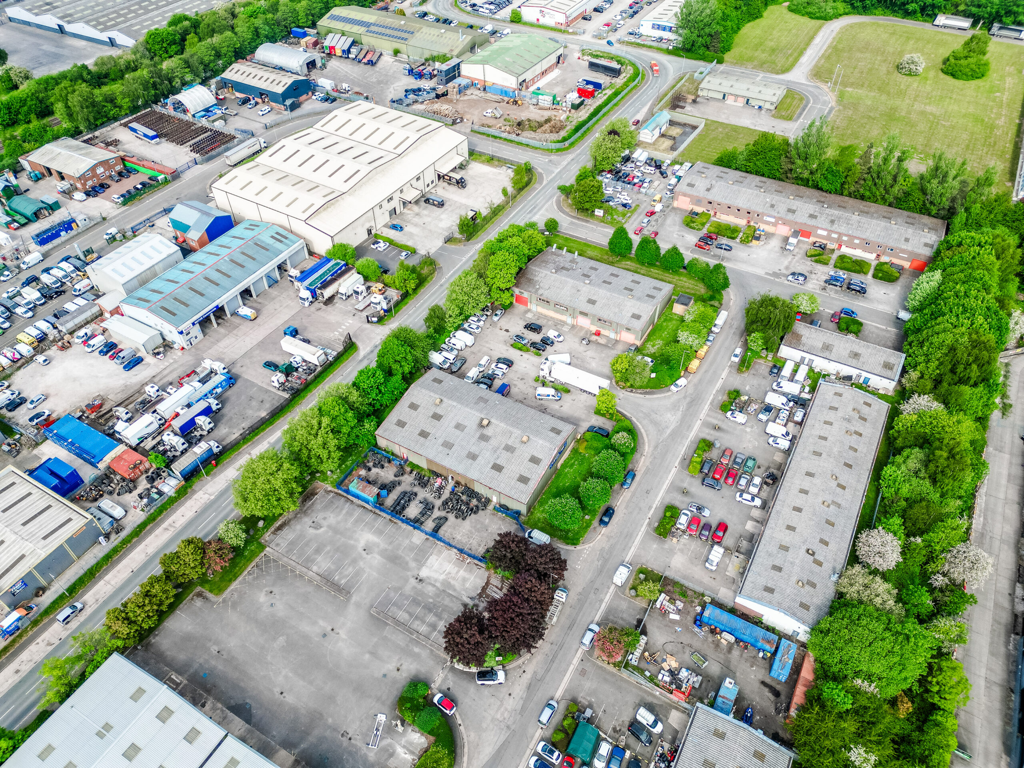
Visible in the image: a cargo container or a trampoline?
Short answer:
cargo container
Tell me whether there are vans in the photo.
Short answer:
Yes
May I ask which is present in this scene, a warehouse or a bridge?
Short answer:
warehouse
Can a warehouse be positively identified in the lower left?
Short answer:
Yes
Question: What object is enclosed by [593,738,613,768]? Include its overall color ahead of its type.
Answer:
white car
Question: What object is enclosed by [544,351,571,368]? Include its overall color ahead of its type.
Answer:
white vehicle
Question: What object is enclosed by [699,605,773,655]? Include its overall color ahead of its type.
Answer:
blue shipping container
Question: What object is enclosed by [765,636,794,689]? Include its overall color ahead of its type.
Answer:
blue shipping container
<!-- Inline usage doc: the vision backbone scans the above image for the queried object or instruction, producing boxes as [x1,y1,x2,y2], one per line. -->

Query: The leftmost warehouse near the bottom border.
[0,649,285,768]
